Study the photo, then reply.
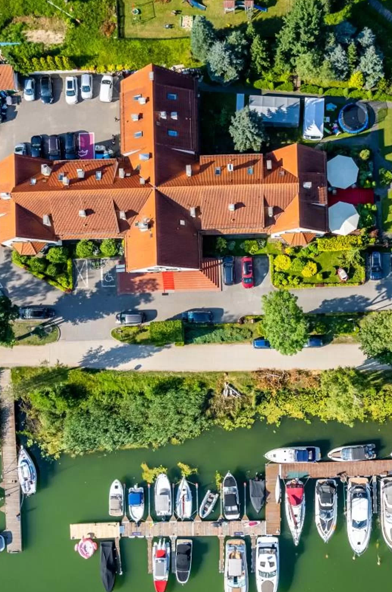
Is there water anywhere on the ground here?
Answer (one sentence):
Yes, there's water in this view.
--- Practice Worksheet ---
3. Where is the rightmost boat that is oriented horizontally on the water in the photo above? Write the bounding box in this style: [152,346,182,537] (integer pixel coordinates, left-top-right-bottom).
[328,443,380,463]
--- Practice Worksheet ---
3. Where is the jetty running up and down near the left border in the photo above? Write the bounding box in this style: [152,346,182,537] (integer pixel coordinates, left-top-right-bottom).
[0,370,22,553]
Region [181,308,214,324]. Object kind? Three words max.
car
